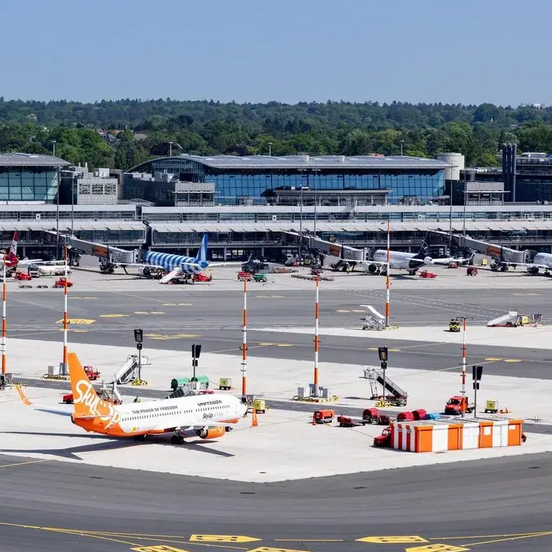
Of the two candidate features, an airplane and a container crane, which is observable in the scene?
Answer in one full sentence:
Of the two, only an airplane appears.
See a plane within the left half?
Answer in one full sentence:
Yes, a plane shows up within the left half.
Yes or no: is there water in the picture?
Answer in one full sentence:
No, the picture contains no water.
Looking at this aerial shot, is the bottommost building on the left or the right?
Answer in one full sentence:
The bottommost building sits on the right side.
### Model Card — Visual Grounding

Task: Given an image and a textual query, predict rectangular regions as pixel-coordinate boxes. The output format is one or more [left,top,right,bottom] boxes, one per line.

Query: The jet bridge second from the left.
[278,229,379,267]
